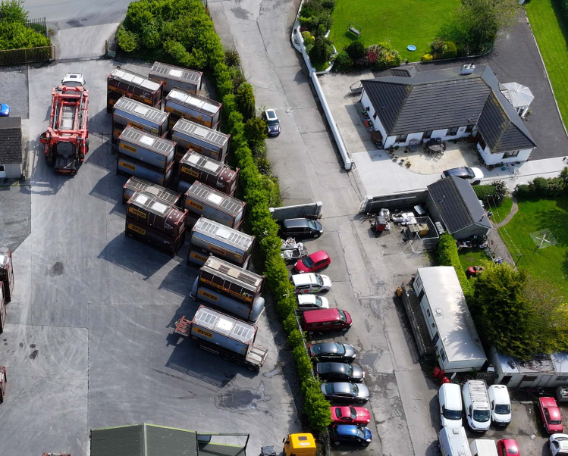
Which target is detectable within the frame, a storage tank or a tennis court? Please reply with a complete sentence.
The image shows a storage tank.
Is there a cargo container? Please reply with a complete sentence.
Yes, the image includes a cargo container.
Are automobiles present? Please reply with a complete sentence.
Yes, an automobile is visible in the scene.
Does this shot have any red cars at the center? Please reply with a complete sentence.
Yes, there is a red car at the center.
